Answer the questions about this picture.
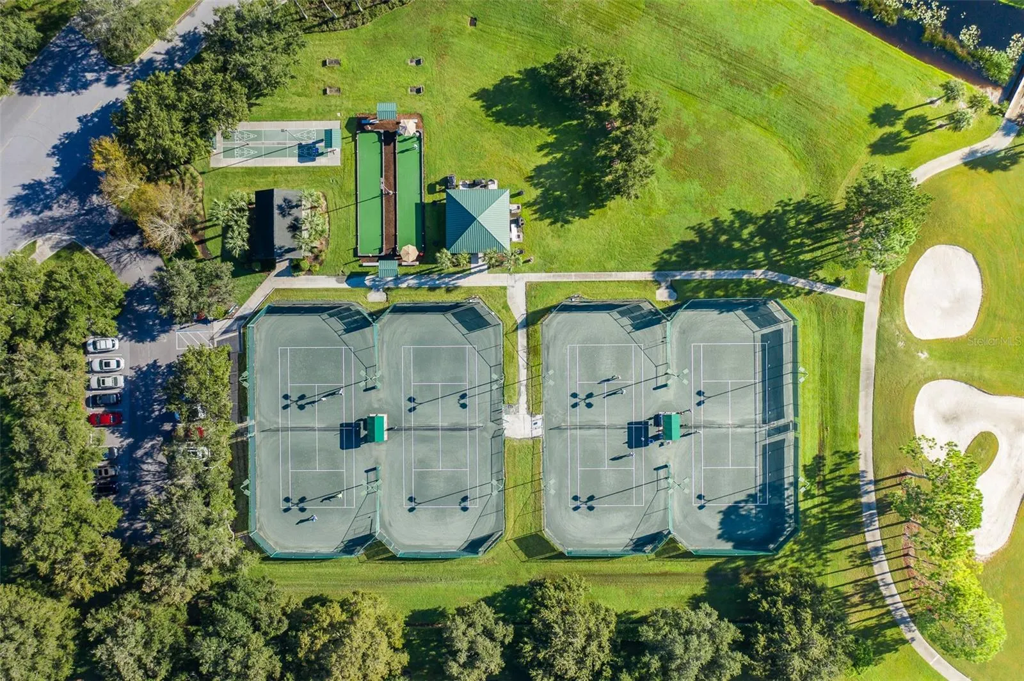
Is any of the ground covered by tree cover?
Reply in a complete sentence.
Yes, there is tree cover in the image.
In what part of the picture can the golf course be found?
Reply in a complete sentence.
The golf course is in the right part of the image.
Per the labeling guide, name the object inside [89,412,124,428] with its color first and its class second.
red car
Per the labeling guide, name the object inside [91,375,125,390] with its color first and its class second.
white car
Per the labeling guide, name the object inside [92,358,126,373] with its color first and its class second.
white car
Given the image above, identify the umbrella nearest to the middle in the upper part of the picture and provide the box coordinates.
[401,245,419,263]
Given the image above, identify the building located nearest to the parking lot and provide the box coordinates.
[255,186,304,259]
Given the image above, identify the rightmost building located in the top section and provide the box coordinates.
[446,188,511,253]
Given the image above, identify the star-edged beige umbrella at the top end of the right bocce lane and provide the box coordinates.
[398,118,418,138]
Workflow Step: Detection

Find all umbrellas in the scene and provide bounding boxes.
[401,245,419,263]
[398,118,418,138]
